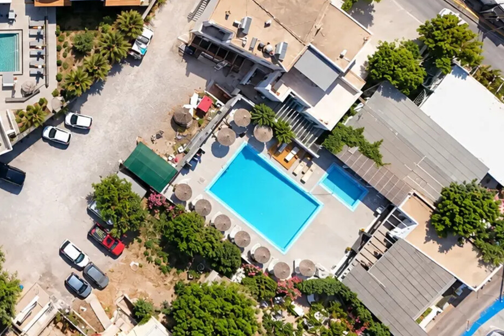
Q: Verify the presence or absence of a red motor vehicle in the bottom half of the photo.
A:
Yes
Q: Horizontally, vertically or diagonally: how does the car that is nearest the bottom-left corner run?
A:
diagonally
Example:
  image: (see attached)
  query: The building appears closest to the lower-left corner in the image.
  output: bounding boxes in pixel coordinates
[13,276,58,336]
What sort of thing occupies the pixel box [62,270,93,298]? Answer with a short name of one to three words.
car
